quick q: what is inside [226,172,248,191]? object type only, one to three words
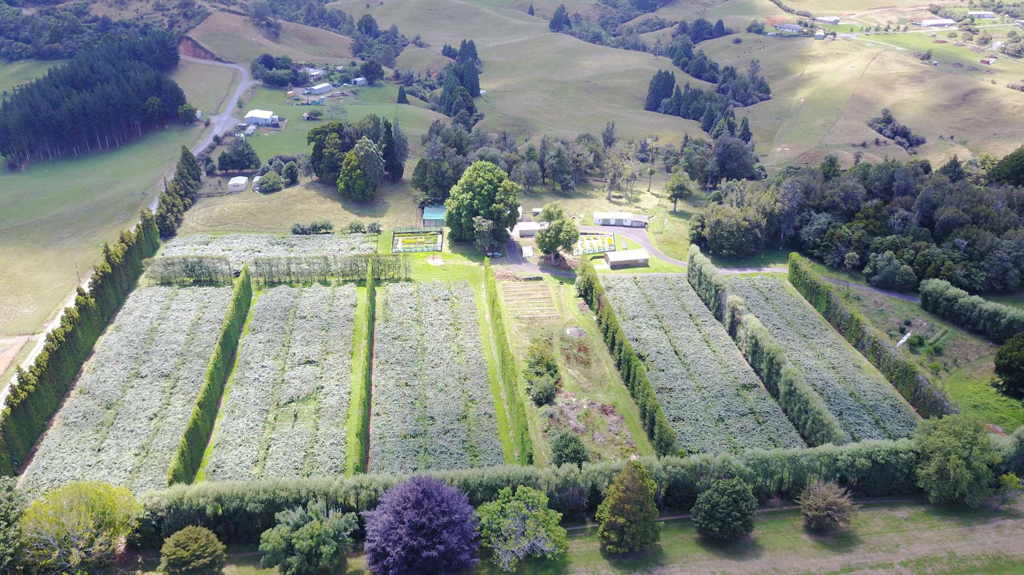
shed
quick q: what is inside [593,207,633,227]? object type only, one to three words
shed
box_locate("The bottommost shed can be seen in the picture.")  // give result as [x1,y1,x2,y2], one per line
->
[603,245,651,270]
